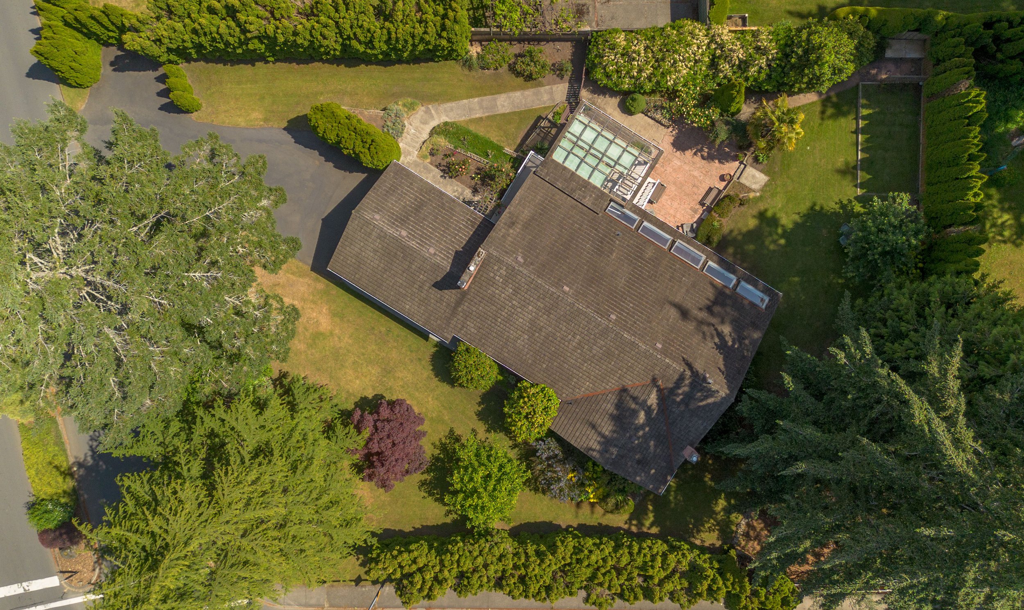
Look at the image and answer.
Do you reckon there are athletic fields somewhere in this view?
No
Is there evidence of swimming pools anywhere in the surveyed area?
No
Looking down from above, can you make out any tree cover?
Yes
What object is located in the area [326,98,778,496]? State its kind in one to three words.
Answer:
house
